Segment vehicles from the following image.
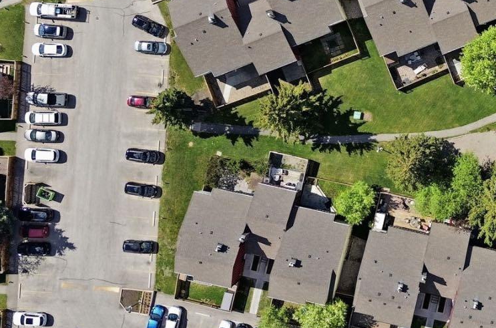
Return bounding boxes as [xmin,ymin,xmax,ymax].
[26,92,70,108]
[217,317,235,328]
[18,207,57,223]
[123,239,159,254]
[33,42,69,57]
[135,39,167,55]
[127,147,163,164]
[148,305,166,328]
[33,23,69,39]
[33,1,77,19]
[134,14,166,36]
[14,311,49,328]
[166,304,184,328]
[25,127,61,144]
[126,182,161,198]
[17,240,52,256]
[26,147,61,163]
[127,95,159,109]
[25,109,63,126]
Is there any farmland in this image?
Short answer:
No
